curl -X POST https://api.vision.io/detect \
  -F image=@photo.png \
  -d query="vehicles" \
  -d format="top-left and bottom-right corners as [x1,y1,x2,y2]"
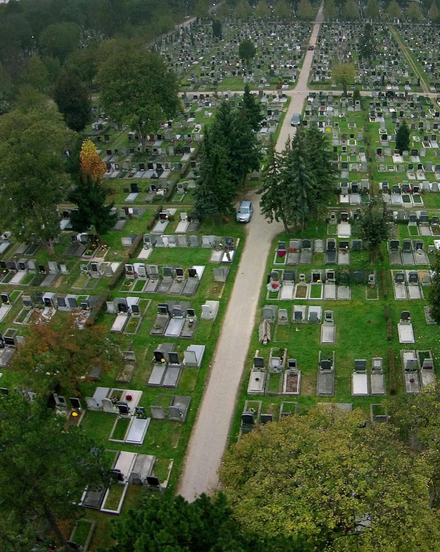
[307,44,314,50]
[235,195,254,219]
[288,109,301,122]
